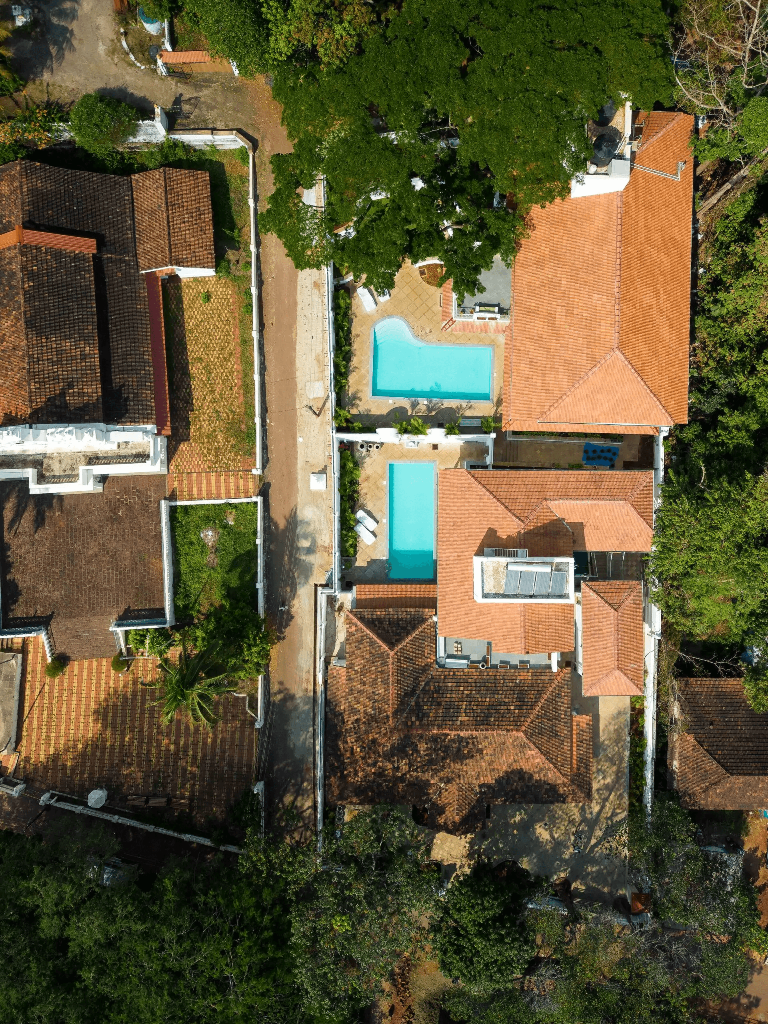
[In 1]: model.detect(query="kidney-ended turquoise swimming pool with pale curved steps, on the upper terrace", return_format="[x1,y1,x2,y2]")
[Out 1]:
[368,314,496,405]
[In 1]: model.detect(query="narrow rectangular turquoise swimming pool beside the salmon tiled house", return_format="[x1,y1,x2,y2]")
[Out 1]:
[385,460,437,582]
